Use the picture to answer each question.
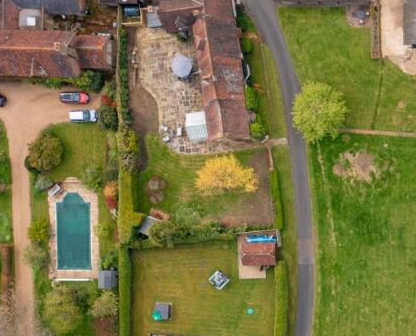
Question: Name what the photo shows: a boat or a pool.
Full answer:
There is a pool in the scene.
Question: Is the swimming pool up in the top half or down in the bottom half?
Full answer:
The swimming pool is in the bottom half of the image.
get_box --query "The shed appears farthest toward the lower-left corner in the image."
[96,272,120,288]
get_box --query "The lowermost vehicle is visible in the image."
[69,109,100,124]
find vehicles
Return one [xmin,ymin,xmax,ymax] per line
[69,109,100,124]
[0,94,10,110]
[60,91,91,105]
